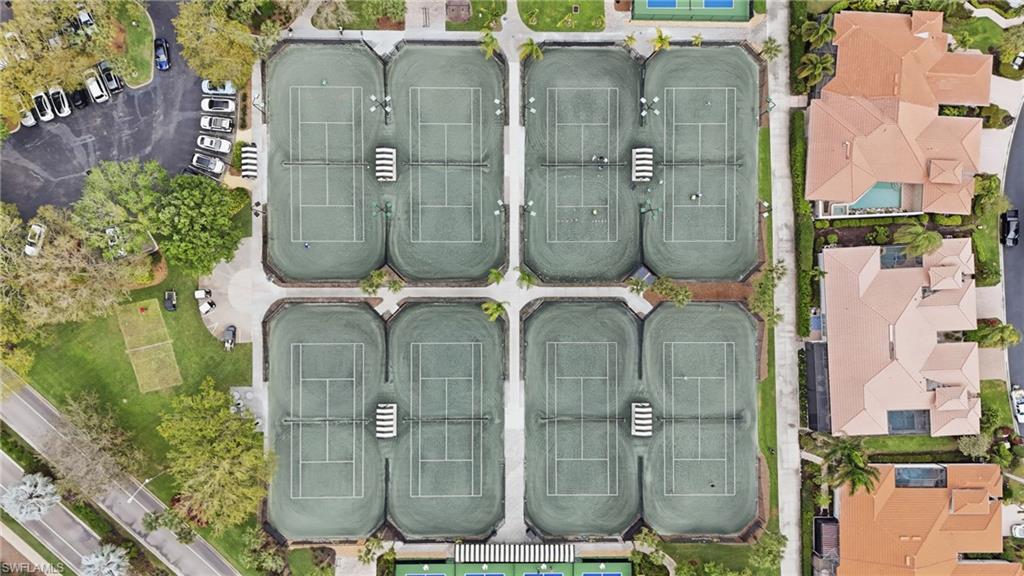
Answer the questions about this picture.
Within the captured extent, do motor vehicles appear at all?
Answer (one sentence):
Yes, looking at the shot, I can spot a motor vehicle.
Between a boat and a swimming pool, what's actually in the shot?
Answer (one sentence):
Visible in the photo is a swimming pool.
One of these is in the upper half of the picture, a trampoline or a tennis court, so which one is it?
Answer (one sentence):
Looking in the upper half of the picture, you will find a tennis court.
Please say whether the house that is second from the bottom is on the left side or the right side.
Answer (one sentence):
The house that is second from the bottom sits on the right side.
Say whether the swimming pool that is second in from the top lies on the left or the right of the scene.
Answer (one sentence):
You can find the swimming pool that is second in from the top on the right side of the picture.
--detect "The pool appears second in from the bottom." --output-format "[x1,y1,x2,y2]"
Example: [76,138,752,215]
[886,411,929,436]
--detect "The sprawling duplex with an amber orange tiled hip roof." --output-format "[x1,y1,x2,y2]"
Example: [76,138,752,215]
[838,463,1020,576]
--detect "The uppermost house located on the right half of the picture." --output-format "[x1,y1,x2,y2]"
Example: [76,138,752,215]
[806,11,993,216]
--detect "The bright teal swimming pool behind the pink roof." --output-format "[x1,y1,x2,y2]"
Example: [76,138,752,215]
[814,181,923,216]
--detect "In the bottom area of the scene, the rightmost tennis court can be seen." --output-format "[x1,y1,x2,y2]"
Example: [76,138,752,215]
[642,302,757,538]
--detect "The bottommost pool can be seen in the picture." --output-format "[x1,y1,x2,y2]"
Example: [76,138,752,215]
[894,462,950,487]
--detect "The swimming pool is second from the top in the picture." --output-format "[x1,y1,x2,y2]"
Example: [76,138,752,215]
[880,246,919,267]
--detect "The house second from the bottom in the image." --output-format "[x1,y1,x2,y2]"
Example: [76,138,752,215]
[821,238,981,436]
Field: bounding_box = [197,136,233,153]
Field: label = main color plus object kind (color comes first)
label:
white car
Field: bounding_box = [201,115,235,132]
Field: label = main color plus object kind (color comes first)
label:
white vehicle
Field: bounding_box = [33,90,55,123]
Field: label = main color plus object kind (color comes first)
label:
white car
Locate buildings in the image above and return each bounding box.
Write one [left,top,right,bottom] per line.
[806,11,993,216]
[838,463,1020,576]
[821,238,981,436]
